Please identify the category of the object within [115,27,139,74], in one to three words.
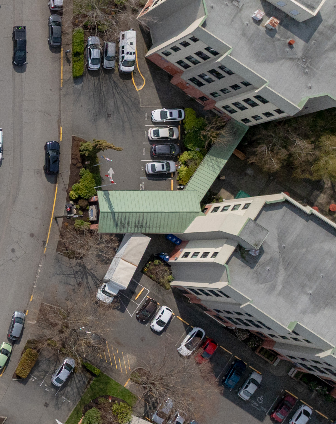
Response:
vehicle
